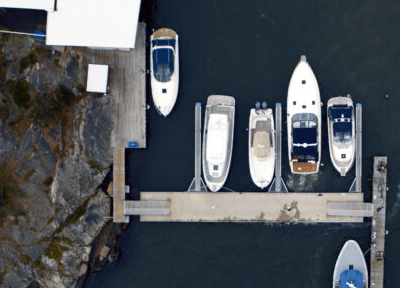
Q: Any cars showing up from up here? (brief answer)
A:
No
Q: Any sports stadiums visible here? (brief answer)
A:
No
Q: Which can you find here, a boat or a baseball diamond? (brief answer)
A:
boat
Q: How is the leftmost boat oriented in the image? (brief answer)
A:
vertically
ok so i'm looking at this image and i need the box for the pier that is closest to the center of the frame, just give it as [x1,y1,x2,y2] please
[189,104,208,192]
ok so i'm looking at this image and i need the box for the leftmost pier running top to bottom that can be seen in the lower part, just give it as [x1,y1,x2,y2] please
[103,148,130,222]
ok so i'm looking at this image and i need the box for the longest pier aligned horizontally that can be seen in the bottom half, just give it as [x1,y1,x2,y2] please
[140,192,363,223]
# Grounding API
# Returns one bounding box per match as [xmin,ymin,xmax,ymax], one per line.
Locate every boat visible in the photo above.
[151,28,179,115]
[327,93,355,177]
[203,95,235,192]
[249,101,275,190]
[333,239,369,288]
[287,55,321,175]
